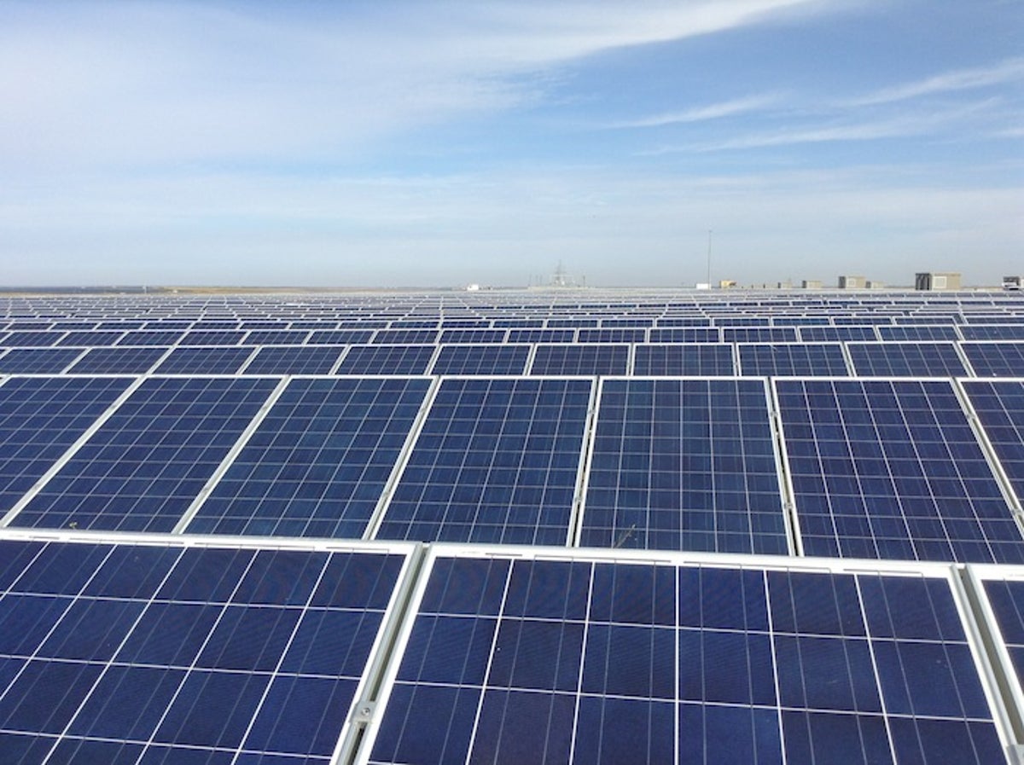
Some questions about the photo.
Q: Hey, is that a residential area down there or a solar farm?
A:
solar farm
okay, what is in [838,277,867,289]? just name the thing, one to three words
building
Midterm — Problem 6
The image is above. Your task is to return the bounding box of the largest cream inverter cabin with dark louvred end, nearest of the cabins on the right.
[914,272,961,290]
